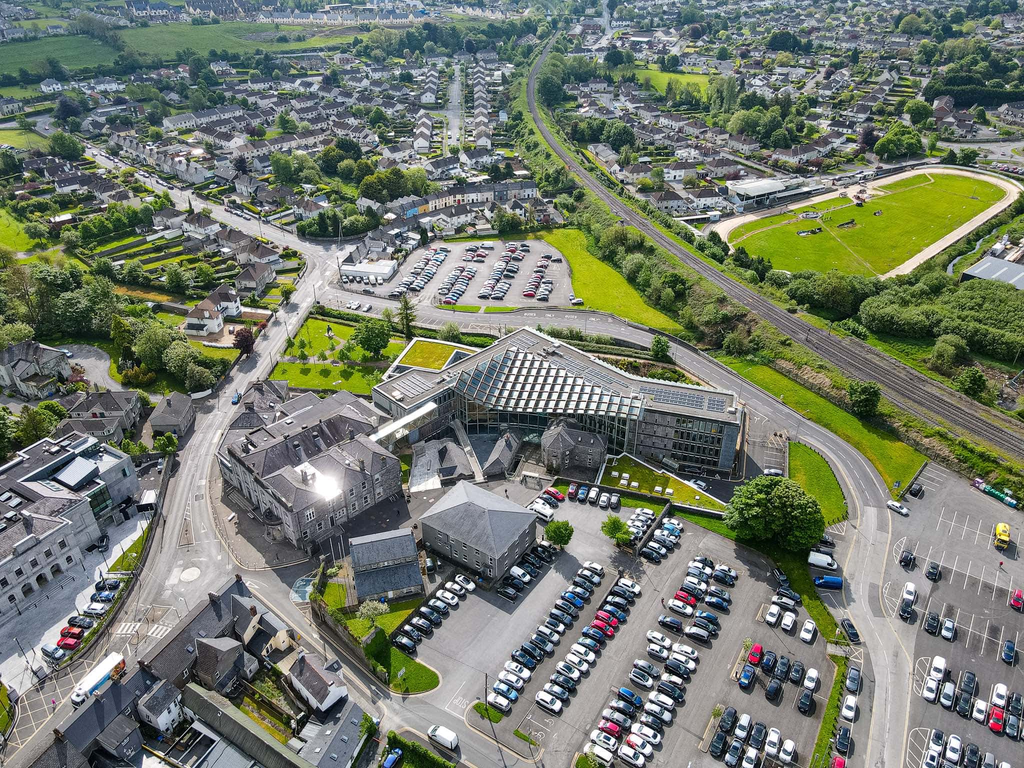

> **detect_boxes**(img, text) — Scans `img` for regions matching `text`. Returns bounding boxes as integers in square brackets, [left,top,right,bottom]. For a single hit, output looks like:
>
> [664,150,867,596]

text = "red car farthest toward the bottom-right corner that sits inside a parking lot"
[987,706,1005,734]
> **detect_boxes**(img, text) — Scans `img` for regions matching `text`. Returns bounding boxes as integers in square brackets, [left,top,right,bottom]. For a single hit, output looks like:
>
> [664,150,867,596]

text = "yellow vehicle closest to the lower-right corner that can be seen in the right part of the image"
[992,525,1009,549]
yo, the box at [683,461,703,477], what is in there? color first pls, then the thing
black car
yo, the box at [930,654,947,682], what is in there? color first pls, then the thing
white car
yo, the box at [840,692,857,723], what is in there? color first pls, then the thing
white car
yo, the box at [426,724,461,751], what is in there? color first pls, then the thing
white vehicle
